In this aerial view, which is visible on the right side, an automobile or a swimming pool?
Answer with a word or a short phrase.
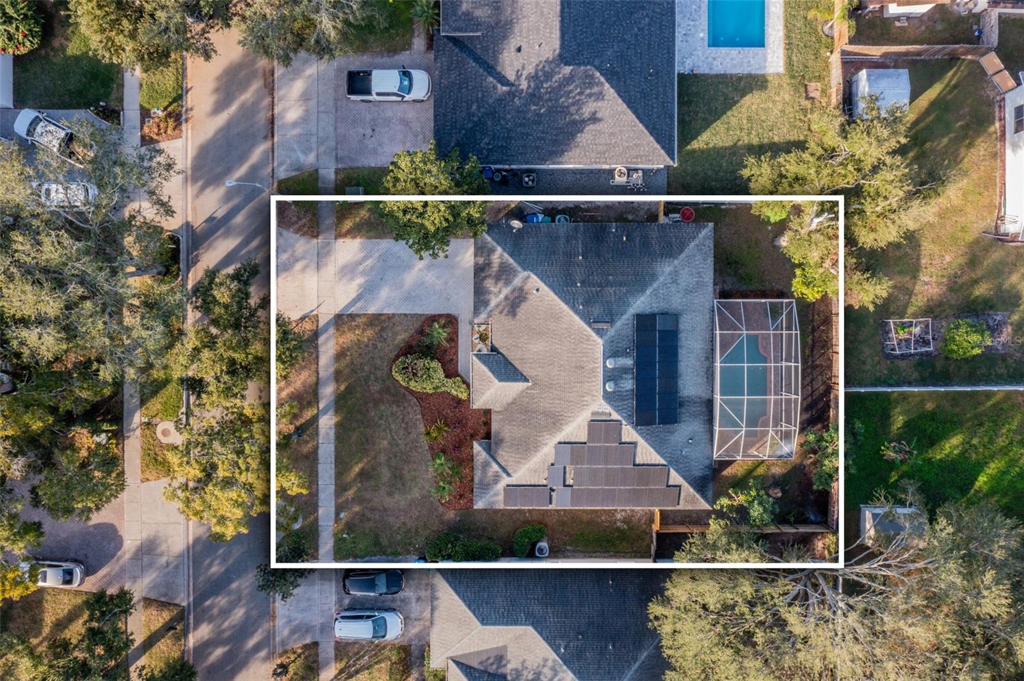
swimming pool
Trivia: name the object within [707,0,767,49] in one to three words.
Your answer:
swimming pool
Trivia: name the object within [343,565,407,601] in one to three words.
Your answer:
car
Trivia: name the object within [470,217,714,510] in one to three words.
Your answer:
house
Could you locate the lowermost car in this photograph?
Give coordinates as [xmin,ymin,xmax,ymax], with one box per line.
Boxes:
[335,607,405,646]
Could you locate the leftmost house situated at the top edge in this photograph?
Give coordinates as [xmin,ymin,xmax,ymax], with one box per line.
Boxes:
[434,0,678,171]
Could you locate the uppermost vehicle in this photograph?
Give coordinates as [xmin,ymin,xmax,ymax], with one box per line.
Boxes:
[345,64,431,104]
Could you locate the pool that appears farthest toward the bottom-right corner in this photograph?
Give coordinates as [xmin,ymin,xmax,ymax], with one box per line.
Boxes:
[716,332,771,442]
